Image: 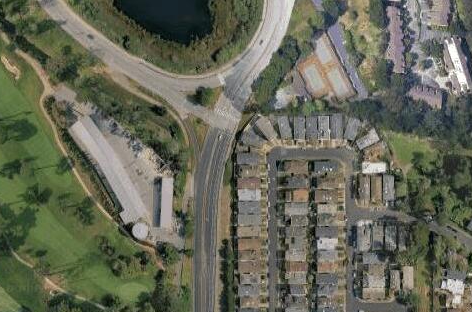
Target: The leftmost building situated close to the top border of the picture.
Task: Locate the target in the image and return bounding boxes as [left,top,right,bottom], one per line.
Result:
[385,5,405,72]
